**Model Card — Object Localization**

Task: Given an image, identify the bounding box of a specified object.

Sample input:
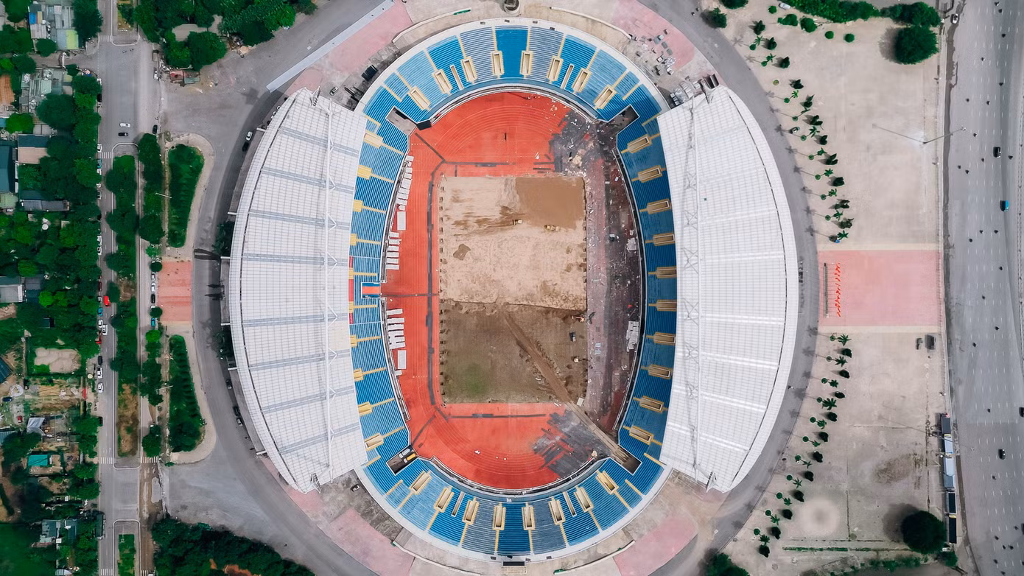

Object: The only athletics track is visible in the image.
[386,91,640,488]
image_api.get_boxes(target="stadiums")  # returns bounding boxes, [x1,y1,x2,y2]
[221,17,798,563]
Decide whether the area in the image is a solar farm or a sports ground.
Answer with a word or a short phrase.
sports ground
